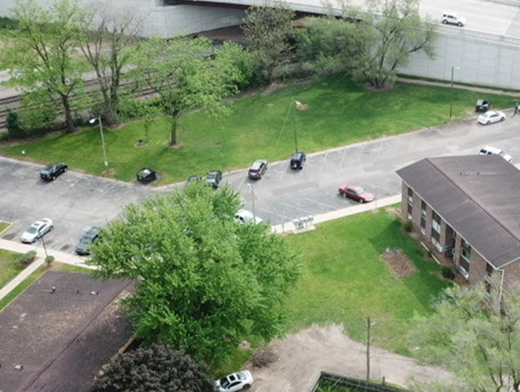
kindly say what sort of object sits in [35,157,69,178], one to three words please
vehicle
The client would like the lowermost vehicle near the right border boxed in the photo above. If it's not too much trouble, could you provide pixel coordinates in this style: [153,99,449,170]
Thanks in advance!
[479,139,515,160]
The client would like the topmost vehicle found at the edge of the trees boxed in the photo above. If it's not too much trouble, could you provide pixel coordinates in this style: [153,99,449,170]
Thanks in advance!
[437,11,465,25]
